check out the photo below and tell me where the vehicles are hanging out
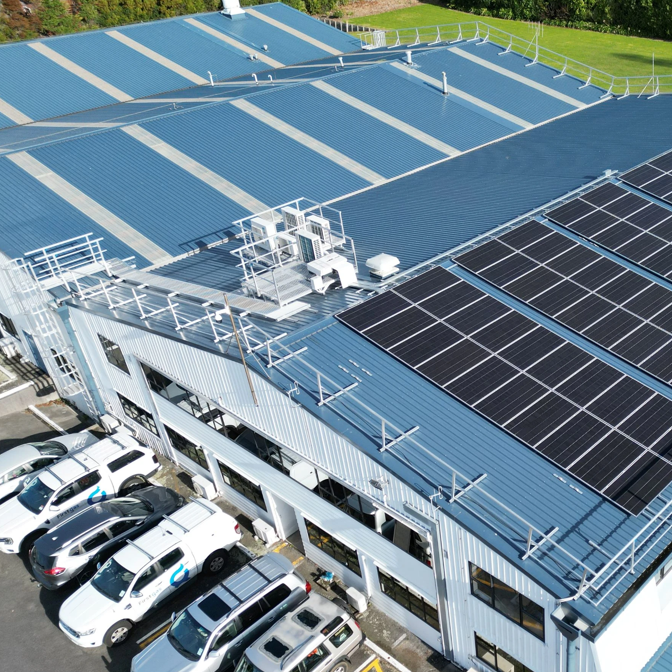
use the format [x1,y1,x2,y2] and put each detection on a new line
[52,498,248,656]
[127,546,313,672]
[21,483,186,594]
[219,585,375,672]
[0,424,101,507]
